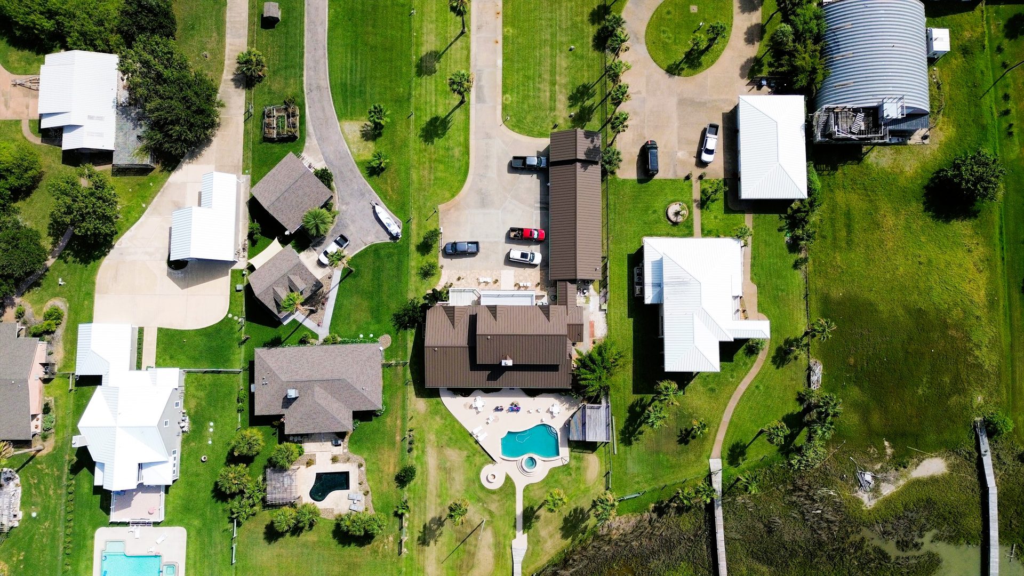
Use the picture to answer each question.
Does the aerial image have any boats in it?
Yes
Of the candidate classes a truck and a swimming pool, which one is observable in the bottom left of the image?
swimming pool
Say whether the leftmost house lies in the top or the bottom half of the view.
bottom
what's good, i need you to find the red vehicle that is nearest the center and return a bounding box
[509,227,546,242]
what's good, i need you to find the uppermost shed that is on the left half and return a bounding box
[264,2,282,21]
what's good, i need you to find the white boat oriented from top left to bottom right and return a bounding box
[373,206,402,239]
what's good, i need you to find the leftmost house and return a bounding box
[0,322,48,439]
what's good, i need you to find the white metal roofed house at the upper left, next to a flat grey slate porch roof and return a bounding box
[38,50,125,150]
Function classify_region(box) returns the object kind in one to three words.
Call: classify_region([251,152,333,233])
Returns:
building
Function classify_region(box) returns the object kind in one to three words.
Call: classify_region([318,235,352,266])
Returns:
truck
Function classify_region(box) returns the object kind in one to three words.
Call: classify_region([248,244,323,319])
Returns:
house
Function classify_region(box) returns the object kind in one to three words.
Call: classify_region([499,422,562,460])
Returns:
swimming pool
